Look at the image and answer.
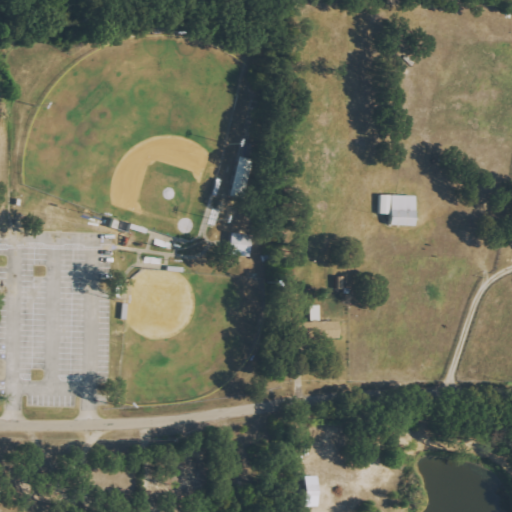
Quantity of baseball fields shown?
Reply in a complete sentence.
Altogether the scene contains 2 baseball fields.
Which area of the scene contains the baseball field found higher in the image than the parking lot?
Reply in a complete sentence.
The baseball field found higher in the image than the parking lot is located in the top left region of the scene.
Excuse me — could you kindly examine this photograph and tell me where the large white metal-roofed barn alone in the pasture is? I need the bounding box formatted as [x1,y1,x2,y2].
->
[377,194,418,226]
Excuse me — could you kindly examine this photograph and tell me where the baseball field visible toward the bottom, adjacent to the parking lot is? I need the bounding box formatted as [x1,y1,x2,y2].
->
[118,268,262,407]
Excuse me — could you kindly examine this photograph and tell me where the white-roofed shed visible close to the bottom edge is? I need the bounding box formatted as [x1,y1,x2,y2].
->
[304,476,320,508]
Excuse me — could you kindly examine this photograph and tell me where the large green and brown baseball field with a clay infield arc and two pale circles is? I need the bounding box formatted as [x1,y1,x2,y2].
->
[22,34,244,241]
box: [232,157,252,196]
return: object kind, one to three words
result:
building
